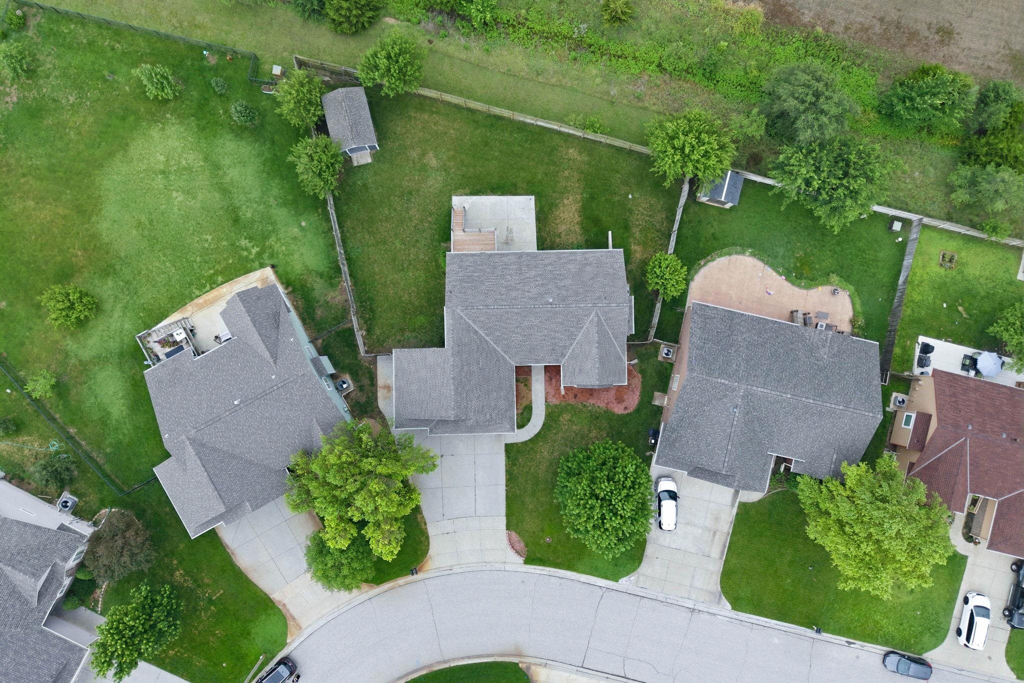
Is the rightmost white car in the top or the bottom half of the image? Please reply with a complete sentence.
The rightmost white car is in the bottom half of the image.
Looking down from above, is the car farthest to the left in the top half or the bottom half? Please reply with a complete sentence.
The car farthest to the left is in the bottom half of the image.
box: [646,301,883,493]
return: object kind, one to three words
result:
house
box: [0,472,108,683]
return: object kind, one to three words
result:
house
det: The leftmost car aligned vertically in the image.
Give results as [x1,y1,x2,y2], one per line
[654,475,681,531]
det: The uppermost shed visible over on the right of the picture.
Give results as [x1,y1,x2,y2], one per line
[695,171,743,209]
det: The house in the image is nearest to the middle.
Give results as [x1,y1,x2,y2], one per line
[392,232,637,436]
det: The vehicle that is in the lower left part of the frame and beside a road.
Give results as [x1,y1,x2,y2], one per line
[251,648,299,683]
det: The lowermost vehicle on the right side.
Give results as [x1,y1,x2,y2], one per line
[879,646,935,681]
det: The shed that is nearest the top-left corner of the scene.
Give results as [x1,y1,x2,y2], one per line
[323,87,380,166]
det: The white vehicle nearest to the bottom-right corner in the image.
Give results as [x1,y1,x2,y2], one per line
[954,594,990,648]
